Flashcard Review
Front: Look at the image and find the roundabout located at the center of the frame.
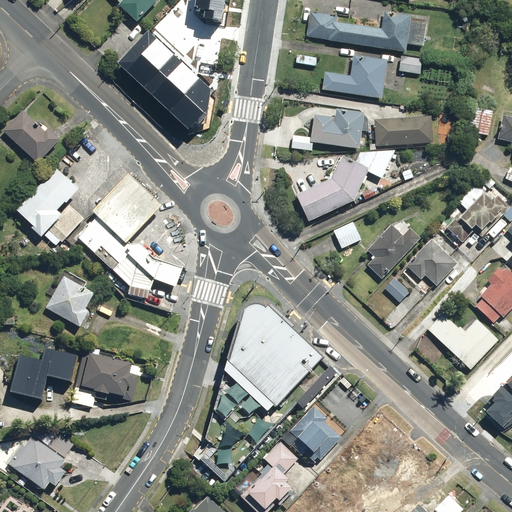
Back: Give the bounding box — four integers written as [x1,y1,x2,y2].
[200,193,240,234]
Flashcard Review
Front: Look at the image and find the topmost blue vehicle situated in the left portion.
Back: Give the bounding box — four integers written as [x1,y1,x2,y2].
[81,138,96,154]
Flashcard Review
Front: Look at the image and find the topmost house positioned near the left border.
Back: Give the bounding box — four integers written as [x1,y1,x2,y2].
[4,110,56,162]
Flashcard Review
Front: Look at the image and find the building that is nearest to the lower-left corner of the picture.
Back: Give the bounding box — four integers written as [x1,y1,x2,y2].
[8,434,66,491]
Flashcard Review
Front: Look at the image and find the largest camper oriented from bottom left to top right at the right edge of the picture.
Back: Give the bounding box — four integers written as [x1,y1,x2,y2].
[488,218,507,238]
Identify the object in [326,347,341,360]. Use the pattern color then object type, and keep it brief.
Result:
white vehicle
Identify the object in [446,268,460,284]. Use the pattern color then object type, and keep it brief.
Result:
white vehicle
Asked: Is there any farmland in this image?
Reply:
No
